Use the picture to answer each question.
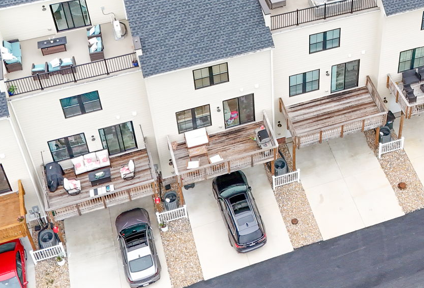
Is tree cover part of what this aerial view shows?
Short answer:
No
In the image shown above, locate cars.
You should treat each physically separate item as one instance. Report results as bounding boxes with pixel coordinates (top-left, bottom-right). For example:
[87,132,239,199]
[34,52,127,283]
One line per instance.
[114,206,159,288]
[215,176,268,254]
[0,241,31,288]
